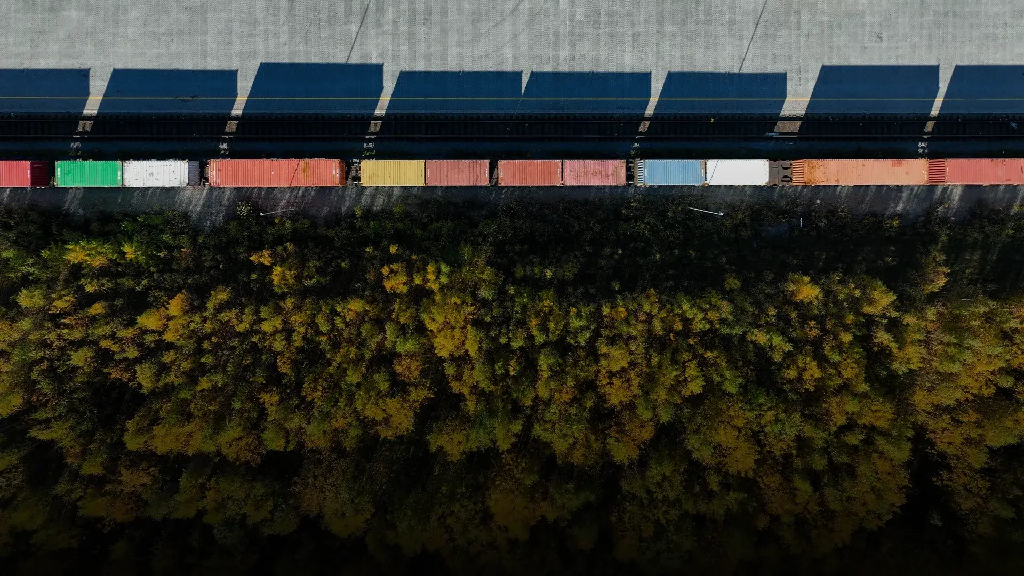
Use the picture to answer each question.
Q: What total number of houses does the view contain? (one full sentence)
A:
There are no houses in the image.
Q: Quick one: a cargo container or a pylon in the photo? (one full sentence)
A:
This aerial view contains a cargo container.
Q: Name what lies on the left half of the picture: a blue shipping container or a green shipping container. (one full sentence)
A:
What appears on the left half of the picture is a green shipping container.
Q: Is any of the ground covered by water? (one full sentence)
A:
No, water can't be seen anywhere here.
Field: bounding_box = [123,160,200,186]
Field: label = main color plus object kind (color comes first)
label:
white shipping container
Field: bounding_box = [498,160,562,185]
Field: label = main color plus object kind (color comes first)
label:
red shipping container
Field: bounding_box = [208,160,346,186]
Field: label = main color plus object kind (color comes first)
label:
red shipping container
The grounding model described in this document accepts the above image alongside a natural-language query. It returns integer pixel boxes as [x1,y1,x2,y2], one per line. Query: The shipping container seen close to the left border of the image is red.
[0,160,49,187]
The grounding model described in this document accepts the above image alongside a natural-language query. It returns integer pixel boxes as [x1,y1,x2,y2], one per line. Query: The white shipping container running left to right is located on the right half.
[706,160,768,185]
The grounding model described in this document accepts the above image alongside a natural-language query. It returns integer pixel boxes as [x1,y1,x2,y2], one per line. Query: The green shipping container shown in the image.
[56,160,123,186]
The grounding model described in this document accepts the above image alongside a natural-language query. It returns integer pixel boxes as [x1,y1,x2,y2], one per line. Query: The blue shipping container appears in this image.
[638,160,706,185]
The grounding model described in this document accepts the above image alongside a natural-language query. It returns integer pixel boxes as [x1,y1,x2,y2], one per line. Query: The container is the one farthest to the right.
[928,159,1024,184]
